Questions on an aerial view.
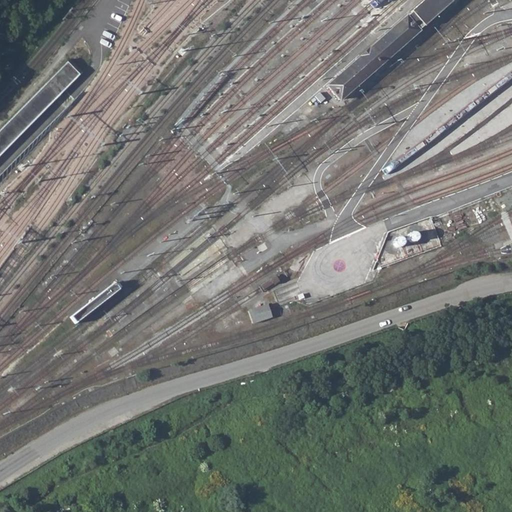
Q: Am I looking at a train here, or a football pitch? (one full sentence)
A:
It is a train that can be seen here.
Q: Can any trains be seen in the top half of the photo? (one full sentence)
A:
Yes, looking in the top half of the photo, one can make out a train.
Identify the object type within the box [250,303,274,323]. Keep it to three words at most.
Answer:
shed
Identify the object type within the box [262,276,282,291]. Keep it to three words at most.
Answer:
rail car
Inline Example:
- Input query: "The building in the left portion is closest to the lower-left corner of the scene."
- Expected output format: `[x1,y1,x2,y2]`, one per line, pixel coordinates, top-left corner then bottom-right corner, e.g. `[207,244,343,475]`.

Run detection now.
[70,278,126,324]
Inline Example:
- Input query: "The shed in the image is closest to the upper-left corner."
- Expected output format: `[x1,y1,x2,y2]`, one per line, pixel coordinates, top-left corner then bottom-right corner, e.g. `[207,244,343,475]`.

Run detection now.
[0,62,84,158]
